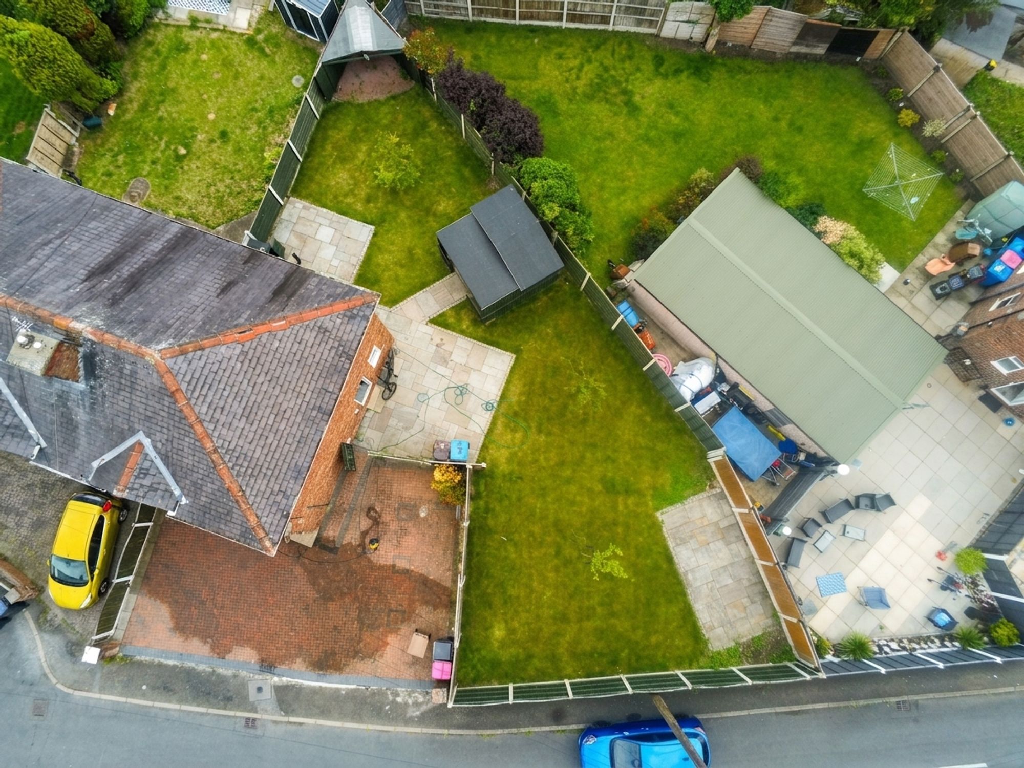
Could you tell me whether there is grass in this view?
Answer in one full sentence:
Yes, the picture does contain grass.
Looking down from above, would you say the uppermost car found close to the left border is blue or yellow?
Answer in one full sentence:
In this view, the uppermost car found close to the left border is yellow.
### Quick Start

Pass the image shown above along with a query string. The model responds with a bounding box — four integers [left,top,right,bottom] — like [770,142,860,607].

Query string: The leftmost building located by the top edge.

[272,0,339,44]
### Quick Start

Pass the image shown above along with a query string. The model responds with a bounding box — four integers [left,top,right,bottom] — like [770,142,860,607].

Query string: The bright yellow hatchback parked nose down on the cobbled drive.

[48,493,127,606]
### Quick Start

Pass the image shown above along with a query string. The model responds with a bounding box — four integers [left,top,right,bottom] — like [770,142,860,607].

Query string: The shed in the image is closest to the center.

[436,187,562,320]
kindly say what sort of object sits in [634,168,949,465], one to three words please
building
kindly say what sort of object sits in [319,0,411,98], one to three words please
shed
